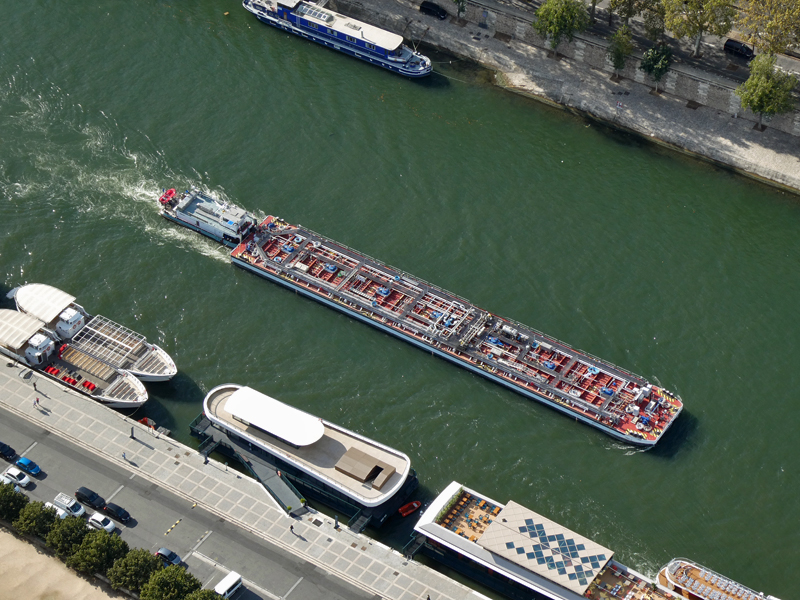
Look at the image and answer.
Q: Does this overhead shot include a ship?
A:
Yes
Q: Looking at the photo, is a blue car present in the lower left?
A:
Yes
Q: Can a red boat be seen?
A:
Yes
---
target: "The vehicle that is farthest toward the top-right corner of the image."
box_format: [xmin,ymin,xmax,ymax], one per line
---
[724,40,752,59]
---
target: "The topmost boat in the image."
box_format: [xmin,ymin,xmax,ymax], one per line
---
[245,0,434,84]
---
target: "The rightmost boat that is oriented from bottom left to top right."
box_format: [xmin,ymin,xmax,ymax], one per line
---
[399,502,420,518]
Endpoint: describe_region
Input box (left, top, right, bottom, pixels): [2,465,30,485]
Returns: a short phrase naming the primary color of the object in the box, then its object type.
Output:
white car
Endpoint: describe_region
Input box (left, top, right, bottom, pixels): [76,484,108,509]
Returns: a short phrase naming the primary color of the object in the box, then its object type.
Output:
black car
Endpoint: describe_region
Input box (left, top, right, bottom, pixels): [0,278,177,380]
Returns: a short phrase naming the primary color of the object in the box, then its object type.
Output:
white boat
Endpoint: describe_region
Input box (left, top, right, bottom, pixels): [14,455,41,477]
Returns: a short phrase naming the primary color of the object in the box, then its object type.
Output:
blue car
